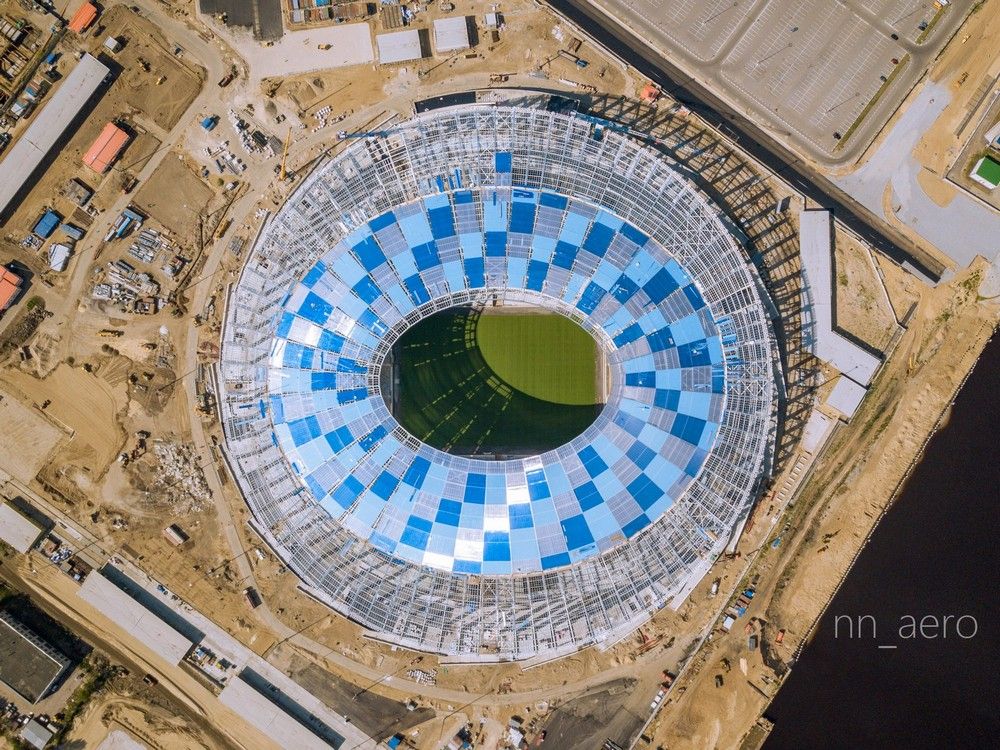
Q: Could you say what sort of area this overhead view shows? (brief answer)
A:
sports ground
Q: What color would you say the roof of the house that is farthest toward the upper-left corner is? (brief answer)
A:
orange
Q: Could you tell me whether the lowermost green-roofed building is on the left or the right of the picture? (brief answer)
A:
right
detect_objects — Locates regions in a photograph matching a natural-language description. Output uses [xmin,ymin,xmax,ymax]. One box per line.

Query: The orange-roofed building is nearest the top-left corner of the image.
[69,2,102,37]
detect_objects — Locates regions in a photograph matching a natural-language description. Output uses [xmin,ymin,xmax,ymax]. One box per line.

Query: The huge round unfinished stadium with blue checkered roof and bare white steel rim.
[215,93,789,671]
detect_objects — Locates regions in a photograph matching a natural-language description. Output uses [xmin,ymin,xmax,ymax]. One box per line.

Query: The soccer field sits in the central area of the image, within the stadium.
[387,307,606,453]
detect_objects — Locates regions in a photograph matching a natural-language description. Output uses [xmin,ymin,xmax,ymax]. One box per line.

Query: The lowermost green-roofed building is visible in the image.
[964,145,1000,195]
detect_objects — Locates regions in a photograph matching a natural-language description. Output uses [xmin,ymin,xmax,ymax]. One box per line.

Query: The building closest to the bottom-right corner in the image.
[823,376,867,418]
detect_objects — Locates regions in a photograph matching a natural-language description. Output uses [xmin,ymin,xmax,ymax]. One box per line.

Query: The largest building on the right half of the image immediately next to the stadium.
[797,210,881,379]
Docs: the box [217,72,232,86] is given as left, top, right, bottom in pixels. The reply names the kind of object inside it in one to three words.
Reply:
vehicle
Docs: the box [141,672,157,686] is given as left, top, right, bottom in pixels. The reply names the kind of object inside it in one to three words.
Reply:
vehicle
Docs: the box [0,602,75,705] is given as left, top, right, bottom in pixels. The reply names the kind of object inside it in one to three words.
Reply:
building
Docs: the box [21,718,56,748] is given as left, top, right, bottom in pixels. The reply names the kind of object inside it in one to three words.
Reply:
shed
